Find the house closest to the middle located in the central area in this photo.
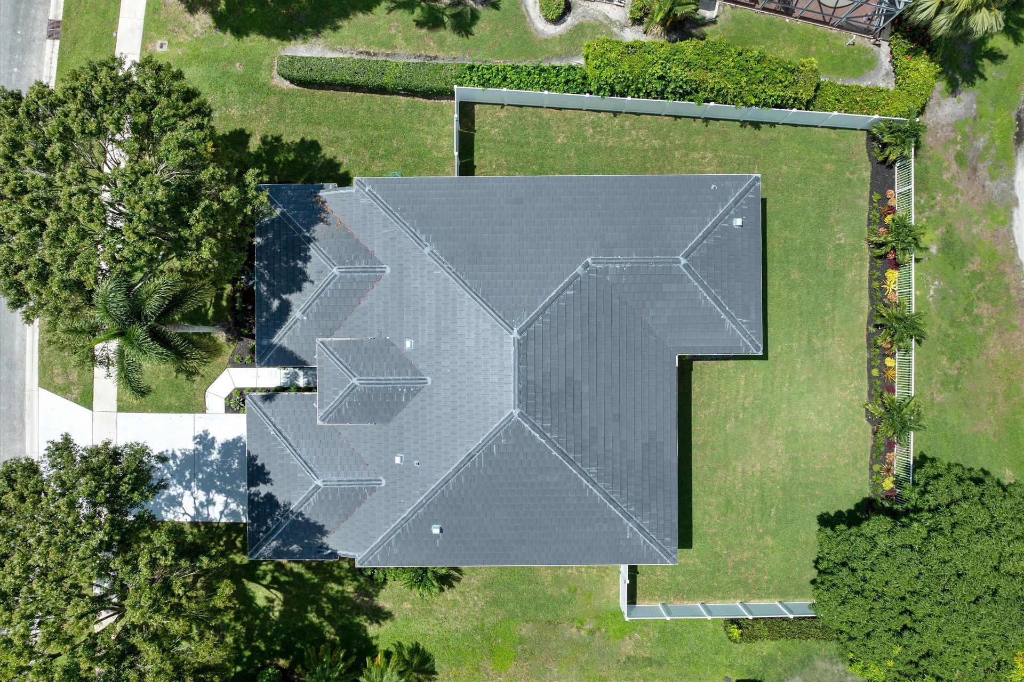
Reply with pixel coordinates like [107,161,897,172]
[244,173,764,568]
